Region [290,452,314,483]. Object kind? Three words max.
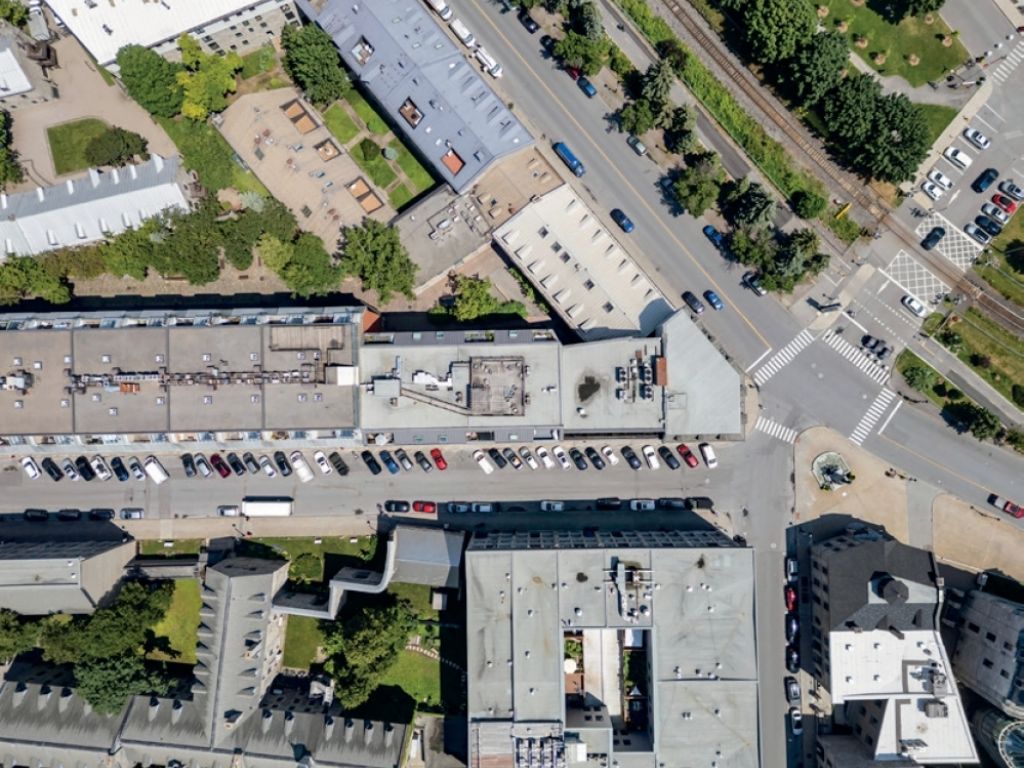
vehicle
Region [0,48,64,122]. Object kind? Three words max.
house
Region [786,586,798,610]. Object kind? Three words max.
vehicle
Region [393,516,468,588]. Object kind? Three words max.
building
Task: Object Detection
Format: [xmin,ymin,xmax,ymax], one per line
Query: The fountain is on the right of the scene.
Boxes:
[813,451,853,492]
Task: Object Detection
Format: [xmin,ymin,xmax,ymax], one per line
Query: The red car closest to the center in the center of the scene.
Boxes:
[430,446,448,471]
